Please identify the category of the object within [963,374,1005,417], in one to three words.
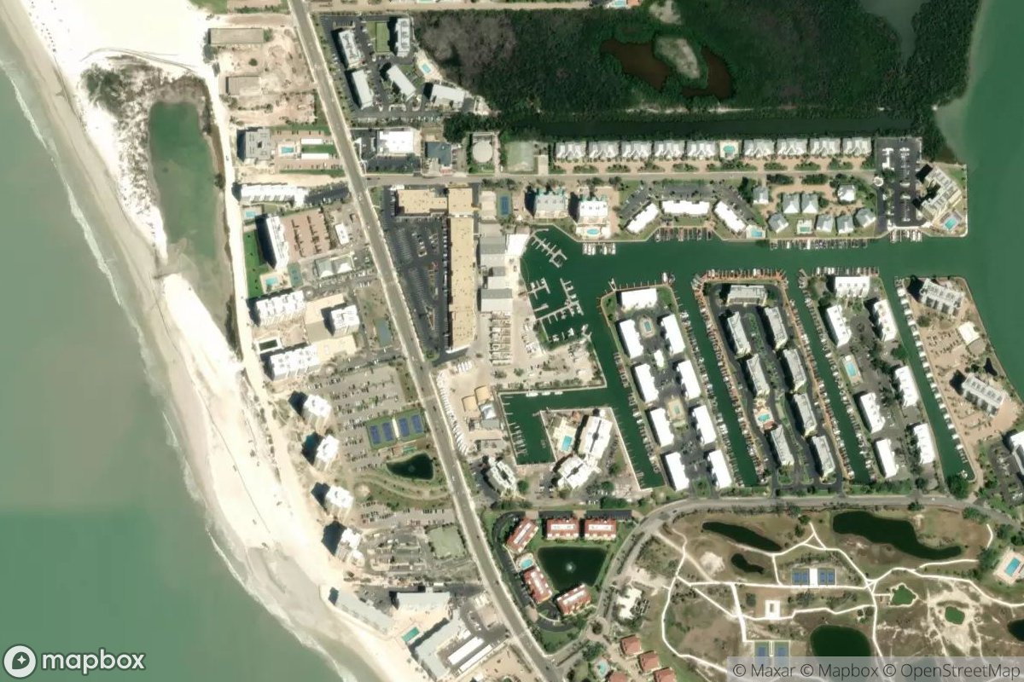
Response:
building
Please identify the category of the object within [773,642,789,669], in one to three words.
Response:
tennis court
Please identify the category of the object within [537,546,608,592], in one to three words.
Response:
pond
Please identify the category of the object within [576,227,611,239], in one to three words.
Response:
swimming pool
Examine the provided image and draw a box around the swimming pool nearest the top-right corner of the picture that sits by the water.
[940,210,962,233]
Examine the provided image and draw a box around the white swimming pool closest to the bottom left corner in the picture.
[255,334,282,354]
